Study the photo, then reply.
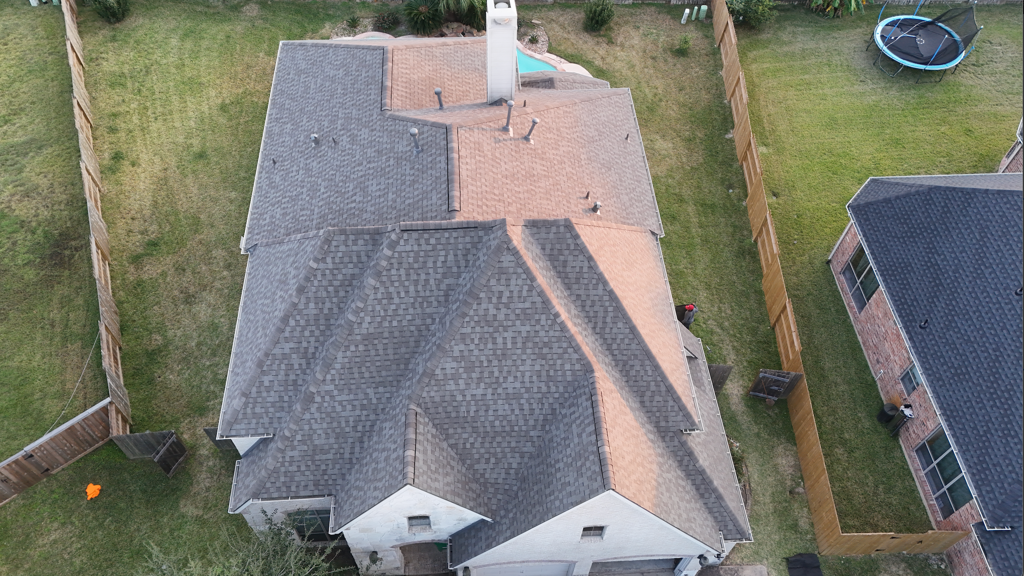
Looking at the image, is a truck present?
No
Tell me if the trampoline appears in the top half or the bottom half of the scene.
top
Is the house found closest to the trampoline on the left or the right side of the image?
right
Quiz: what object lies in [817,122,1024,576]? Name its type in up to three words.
house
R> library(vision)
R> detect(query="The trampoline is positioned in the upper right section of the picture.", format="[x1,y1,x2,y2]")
[869,0,983,85]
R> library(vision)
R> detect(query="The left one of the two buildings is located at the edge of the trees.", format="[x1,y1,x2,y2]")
[218,0,751,576]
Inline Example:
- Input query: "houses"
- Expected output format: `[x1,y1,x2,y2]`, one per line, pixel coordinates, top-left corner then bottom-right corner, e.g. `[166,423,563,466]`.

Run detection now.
[218,0,751,576]
[817,122,1024,576]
